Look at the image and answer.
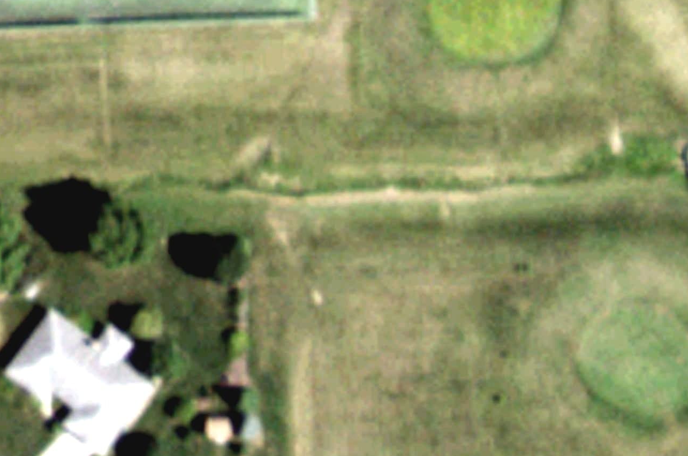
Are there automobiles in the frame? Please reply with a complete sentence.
No, no automobile is visible in the scene.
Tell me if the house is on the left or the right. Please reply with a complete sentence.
The house sits on the left side.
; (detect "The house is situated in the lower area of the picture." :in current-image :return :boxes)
[5,311,155,456]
